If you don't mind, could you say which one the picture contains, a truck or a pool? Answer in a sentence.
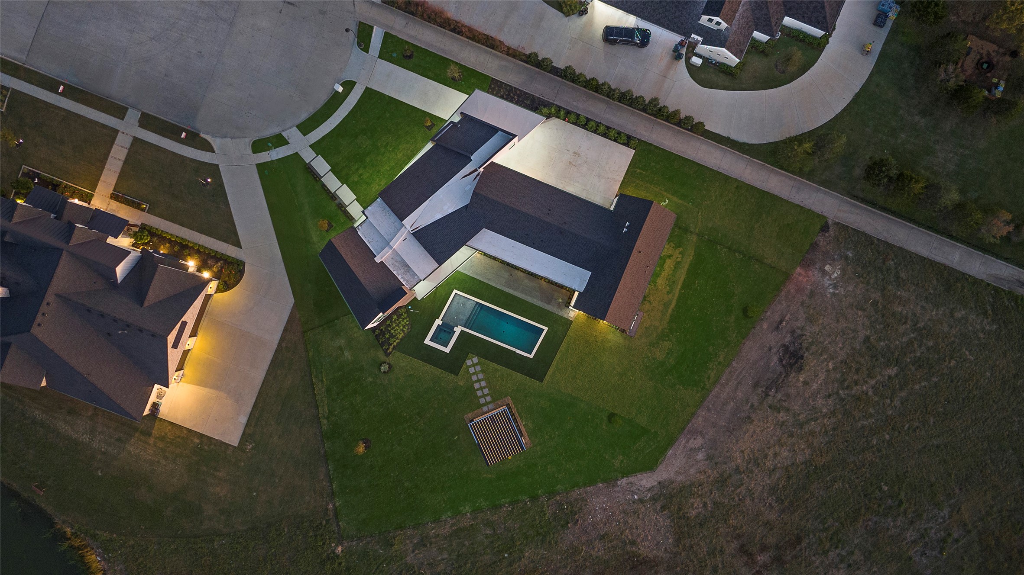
I can see a pool in this picture.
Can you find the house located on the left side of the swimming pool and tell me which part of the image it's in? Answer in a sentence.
The house located on the left side of the swimming pool sits in the left section of the image.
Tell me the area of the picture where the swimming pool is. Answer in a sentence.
You can find the swimming pool in the center area of the picture.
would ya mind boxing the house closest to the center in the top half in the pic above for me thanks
[319,89,677,330]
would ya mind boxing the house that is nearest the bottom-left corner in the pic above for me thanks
[0,186,229,423]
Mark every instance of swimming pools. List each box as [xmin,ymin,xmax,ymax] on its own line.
[424,290,548,358]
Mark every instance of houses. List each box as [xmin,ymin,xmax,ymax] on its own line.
[319,89,677,330]
[598,0,845,67]
[0,186,229,423]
